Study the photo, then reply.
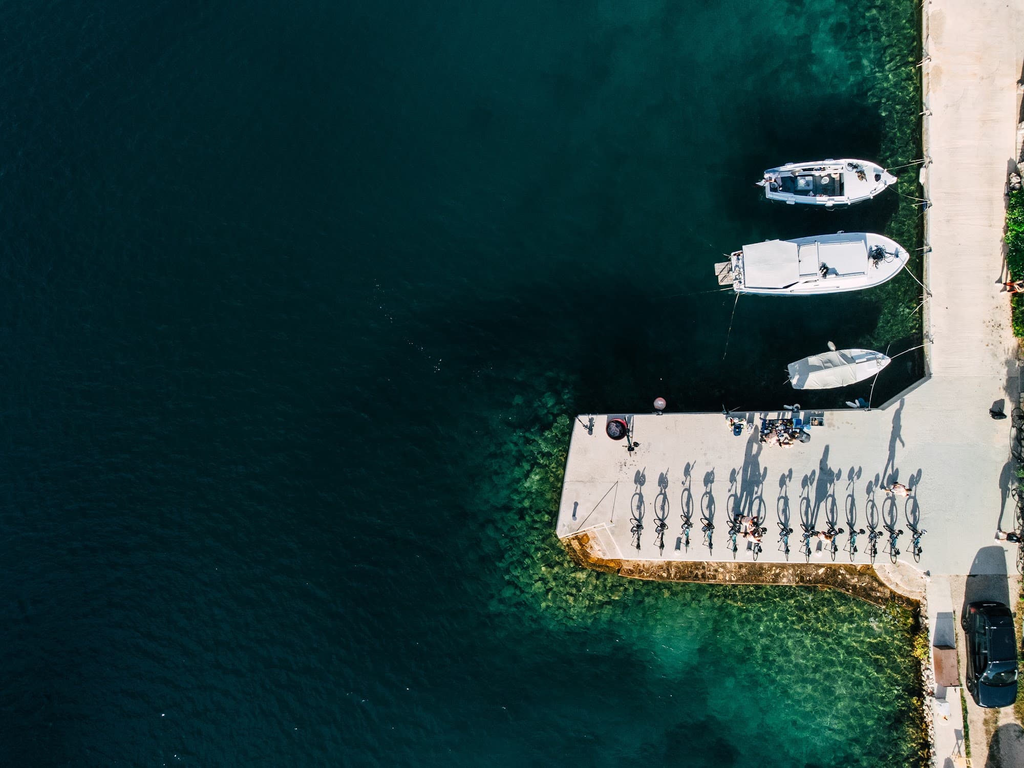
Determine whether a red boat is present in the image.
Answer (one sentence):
No, I can see no red boat in this picture.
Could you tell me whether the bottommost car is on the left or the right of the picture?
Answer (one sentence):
The bottommost car appears in the right half of the scene.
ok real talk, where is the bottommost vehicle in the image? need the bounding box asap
[959,599,1022,708]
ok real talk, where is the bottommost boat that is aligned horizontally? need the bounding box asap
[783,336,893,391]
